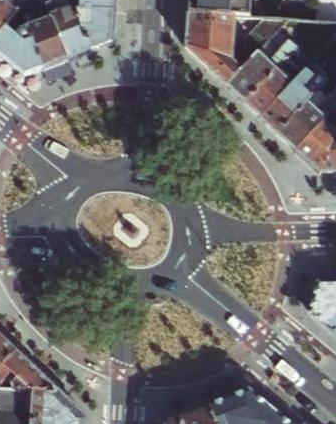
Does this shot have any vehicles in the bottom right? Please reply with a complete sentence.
Yes, a vehicle is visible in the bottom right.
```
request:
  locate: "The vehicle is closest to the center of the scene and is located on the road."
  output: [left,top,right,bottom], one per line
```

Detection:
[152,276,176,290]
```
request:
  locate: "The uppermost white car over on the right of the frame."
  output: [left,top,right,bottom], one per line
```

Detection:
[228,315,250,335]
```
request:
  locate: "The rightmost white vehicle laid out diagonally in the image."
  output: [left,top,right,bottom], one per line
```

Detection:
[276,360,304,386]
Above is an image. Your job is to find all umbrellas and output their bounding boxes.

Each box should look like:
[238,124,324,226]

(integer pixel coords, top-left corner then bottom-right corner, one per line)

[14,74,24,85]
[0,62,12,77]
[27,78,41,92]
